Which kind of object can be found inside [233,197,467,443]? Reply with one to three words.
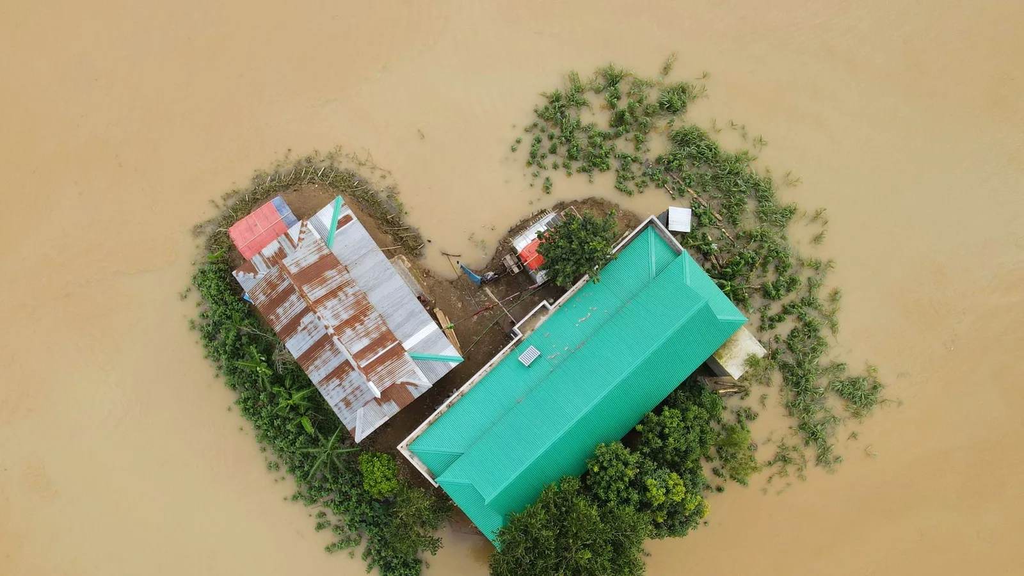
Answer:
house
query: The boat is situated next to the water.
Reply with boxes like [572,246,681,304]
[458,260,481,285]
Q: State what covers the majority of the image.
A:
water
